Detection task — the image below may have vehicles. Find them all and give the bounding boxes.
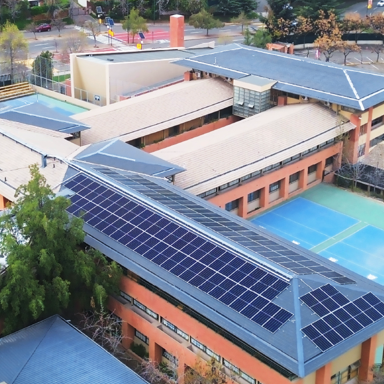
[377,0,384,6]
[34,23,52,32]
